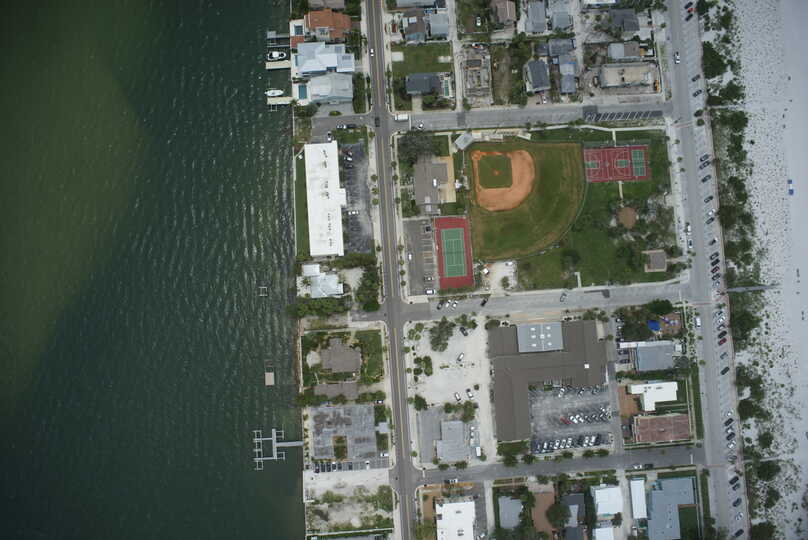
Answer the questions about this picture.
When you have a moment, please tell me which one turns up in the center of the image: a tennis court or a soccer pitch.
tennis court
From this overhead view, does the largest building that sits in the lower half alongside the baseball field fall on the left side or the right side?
right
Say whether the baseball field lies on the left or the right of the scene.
right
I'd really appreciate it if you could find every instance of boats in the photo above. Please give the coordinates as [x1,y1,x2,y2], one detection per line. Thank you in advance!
[265,89,285,96]
[267,52,286,60]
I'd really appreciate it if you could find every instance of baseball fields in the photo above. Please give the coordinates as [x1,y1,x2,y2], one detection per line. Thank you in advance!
[468,141,587,264]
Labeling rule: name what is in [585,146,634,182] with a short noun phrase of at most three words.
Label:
basketball court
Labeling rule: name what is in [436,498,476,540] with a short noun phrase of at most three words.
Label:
building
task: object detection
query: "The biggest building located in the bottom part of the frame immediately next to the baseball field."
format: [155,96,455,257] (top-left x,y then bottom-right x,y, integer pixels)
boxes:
[488,321,608,441]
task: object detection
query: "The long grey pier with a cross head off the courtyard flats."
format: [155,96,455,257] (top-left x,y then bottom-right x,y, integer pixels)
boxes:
[253,429,304,461]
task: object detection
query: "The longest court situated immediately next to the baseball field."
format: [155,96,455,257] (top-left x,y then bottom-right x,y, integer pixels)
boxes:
[434,216,476,291]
